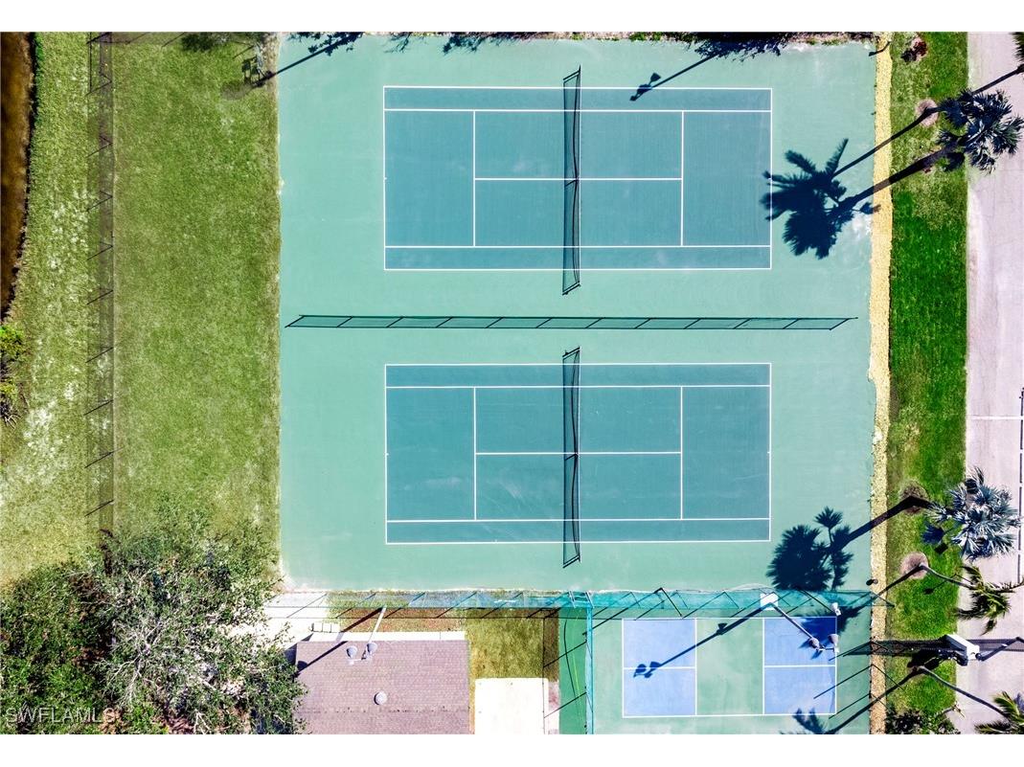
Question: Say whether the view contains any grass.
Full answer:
Yes, some grass is visible.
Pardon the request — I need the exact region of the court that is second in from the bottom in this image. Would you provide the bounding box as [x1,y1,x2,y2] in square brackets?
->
[385,363,771,544]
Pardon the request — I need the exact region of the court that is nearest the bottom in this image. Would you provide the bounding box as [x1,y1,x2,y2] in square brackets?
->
[622,617,837,718]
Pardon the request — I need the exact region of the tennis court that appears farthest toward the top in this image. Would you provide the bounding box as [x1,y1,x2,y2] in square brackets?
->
[383,86,772,270]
